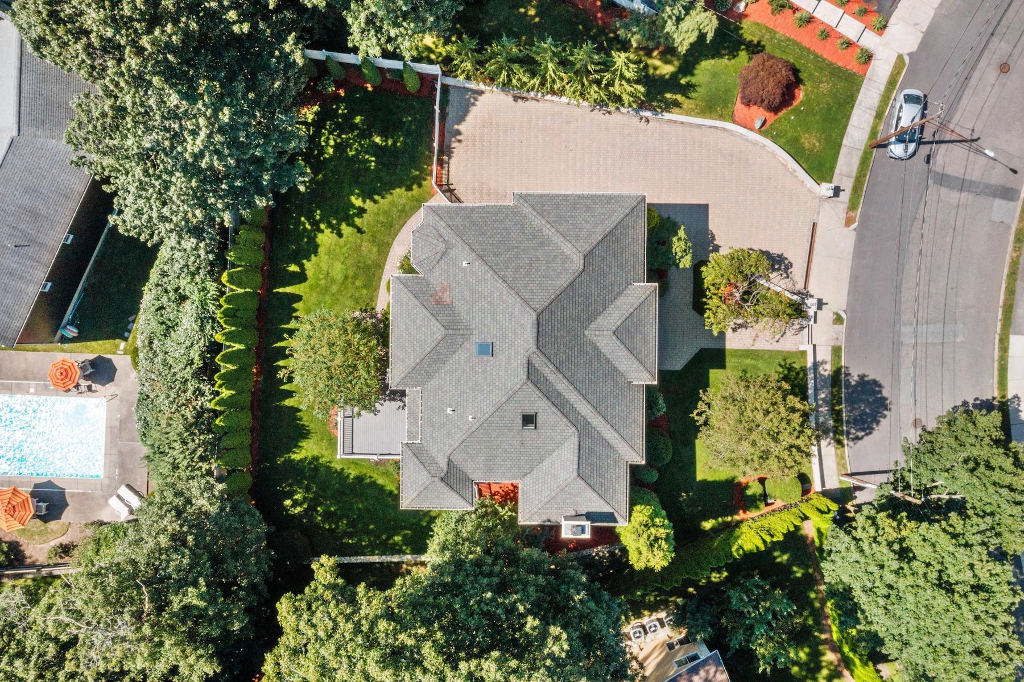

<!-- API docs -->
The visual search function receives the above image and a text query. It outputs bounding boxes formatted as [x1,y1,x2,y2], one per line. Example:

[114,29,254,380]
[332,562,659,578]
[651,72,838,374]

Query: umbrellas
[49,357,83,390]
[0,485,38,530]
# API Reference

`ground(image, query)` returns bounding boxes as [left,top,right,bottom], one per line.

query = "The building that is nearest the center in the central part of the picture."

[388,190,660,538]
